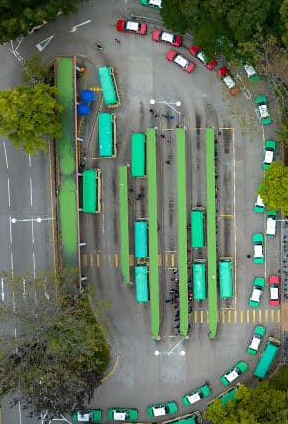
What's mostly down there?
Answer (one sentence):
The largest share of the image is taken up by paved ground.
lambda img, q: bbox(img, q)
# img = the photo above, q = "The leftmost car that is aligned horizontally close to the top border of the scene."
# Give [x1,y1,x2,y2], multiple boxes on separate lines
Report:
[118,20,148,36]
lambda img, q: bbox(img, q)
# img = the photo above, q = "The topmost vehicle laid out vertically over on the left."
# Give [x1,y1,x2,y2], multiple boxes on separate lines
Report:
[96,63,122,109]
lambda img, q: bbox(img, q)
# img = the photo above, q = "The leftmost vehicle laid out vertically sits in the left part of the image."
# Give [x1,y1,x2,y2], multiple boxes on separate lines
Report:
[82,166,102,213]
